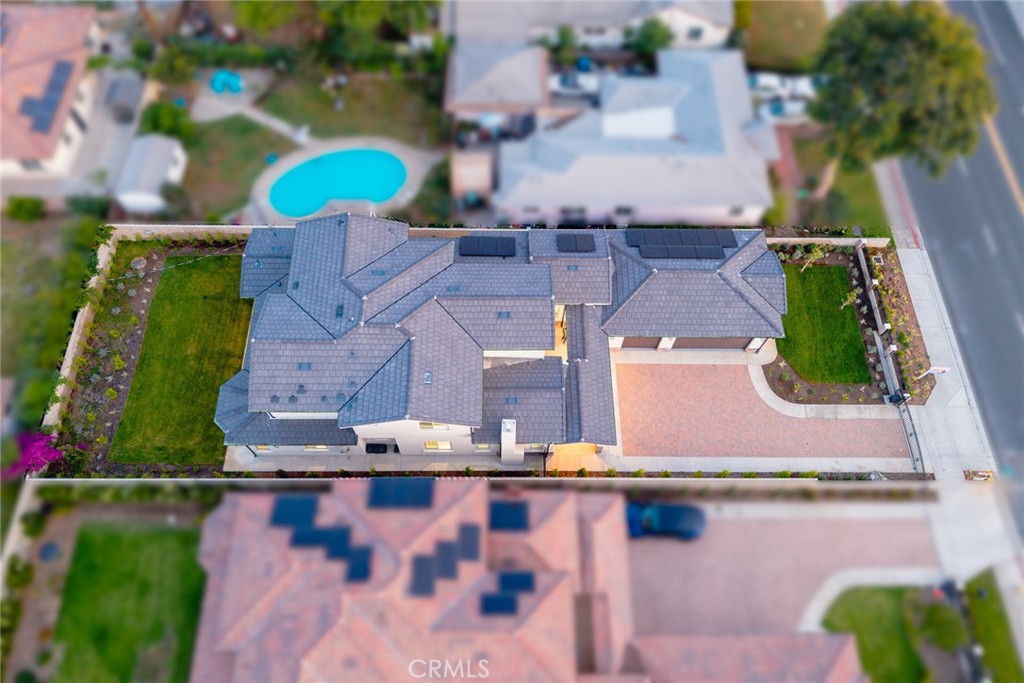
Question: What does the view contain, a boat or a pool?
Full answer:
It is a pool that can be seen here.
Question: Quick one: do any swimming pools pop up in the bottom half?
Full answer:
No, no swimming pool can be made out in the bottom half.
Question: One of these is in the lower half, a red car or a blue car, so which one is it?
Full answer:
Visible in the lower half is a blue car.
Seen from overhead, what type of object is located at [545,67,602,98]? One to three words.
car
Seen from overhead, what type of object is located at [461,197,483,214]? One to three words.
umbrella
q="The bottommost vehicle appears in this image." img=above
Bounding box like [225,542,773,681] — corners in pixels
[625,498,708,542]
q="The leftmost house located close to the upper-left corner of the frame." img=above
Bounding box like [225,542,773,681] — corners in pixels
[0,0,122,186]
